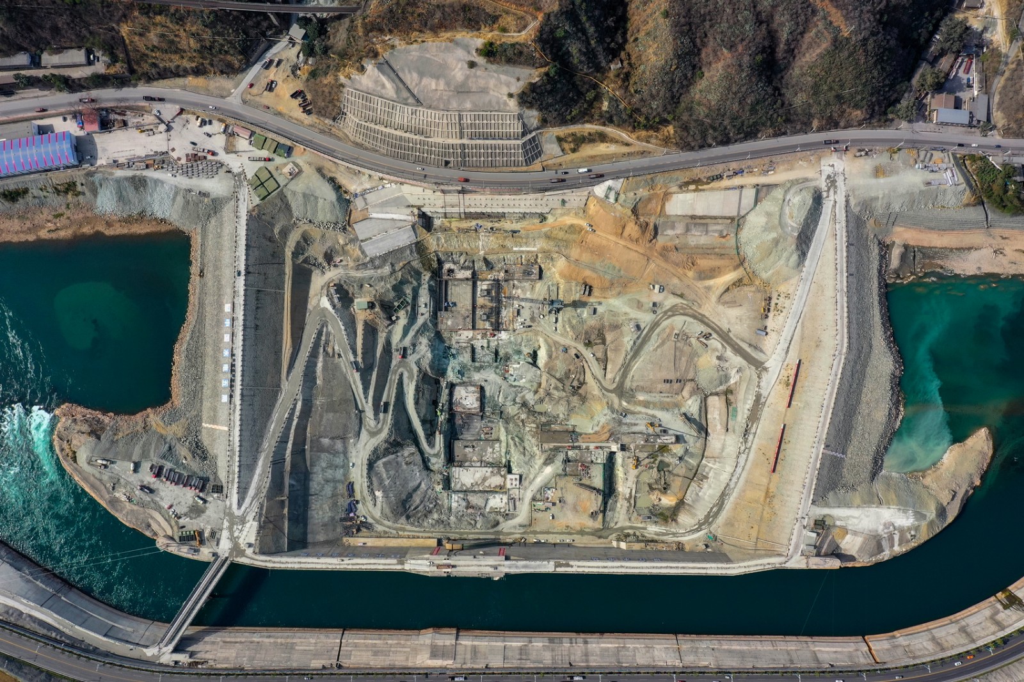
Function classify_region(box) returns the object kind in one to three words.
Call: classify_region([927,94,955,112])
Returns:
building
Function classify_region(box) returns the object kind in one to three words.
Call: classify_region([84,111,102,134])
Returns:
building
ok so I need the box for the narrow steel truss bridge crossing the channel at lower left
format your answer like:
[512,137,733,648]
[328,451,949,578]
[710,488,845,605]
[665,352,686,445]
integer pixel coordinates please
[158,549,234,653]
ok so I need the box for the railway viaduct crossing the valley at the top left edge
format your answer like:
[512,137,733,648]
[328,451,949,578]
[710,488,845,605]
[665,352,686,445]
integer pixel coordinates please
[208,0,352,25]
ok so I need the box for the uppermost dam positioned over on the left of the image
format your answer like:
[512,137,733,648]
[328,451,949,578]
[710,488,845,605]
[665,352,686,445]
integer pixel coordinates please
[168,164,288,539]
